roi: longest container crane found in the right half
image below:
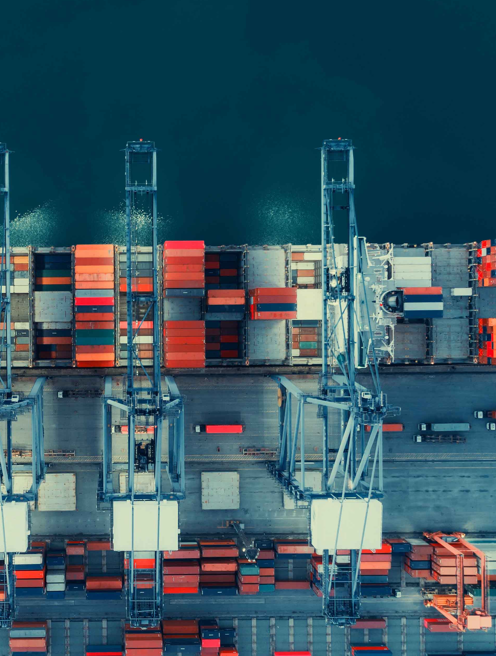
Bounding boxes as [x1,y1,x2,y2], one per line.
[263,135,388,628]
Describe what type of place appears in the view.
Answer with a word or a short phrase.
port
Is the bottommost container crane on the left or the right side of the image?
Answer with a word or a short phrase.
right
